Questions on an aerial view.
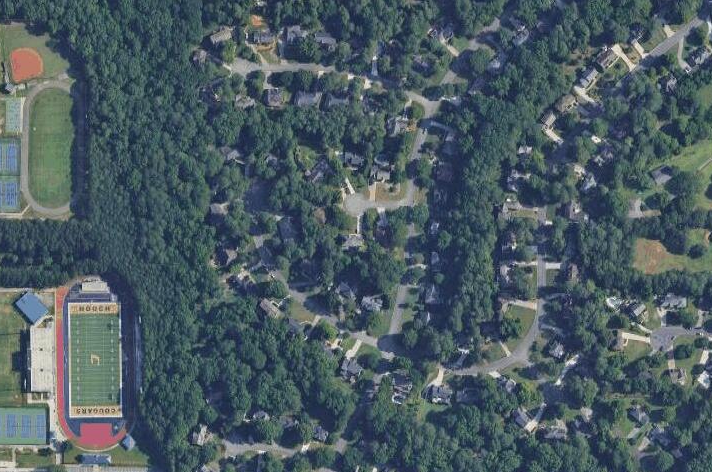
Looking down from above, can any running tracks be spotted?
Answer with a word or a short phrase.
Yes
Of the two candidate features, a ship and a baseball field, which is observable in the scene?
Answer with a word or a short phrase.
baseball field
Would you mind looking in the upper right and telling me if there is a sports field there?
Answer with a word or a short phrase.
No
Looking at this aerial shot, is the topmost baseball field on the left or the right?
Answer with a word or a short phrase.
left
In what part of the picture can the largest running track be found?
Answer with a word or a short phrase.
bottom left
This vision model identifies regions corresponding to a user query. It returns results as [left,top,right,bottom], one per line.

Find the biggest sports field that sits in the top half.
[29,86,77,209]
